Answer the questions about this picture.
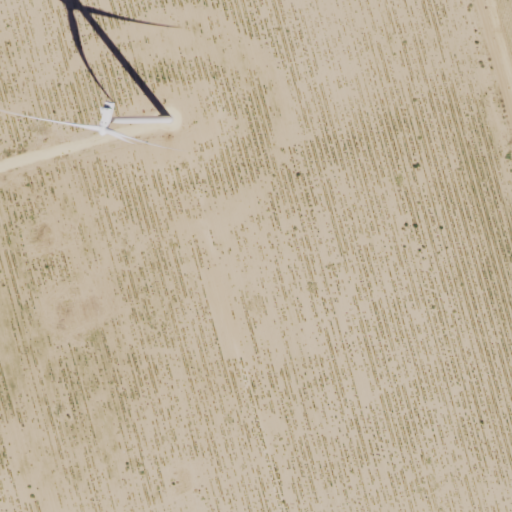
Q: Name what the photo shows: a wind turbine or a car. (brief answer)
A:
wind turbine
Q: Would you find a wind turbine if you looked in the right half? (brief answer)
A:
No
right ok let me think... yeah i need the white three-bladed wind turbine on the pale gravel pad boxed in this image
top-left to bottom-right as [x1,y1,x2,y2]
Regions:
[1,101,184,147]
